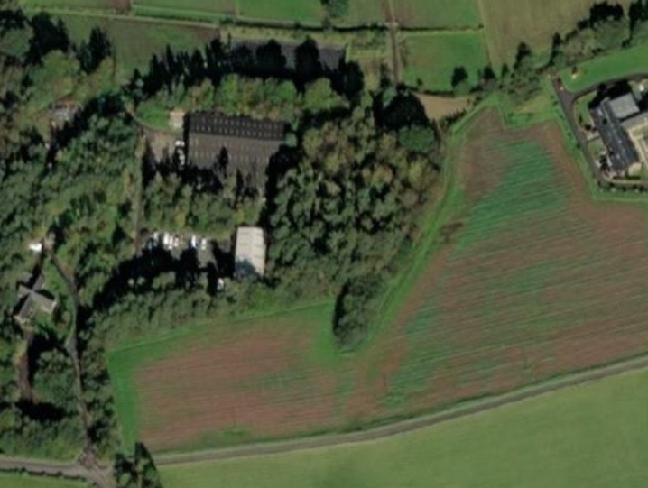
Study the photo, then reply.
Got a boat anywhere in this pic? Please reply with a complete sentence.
No, I can't see a single boat in this photo.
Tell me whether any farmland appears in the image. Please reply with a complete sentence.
Yes, there is farmland in the image.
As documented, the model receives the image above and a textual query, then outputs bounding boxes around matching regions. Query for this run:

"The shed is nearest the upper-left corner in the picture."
[54,104,78,125]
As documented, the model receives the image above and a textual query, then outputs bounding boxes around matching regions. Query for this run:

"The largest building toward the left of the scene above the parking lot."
[185,108,287,185]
